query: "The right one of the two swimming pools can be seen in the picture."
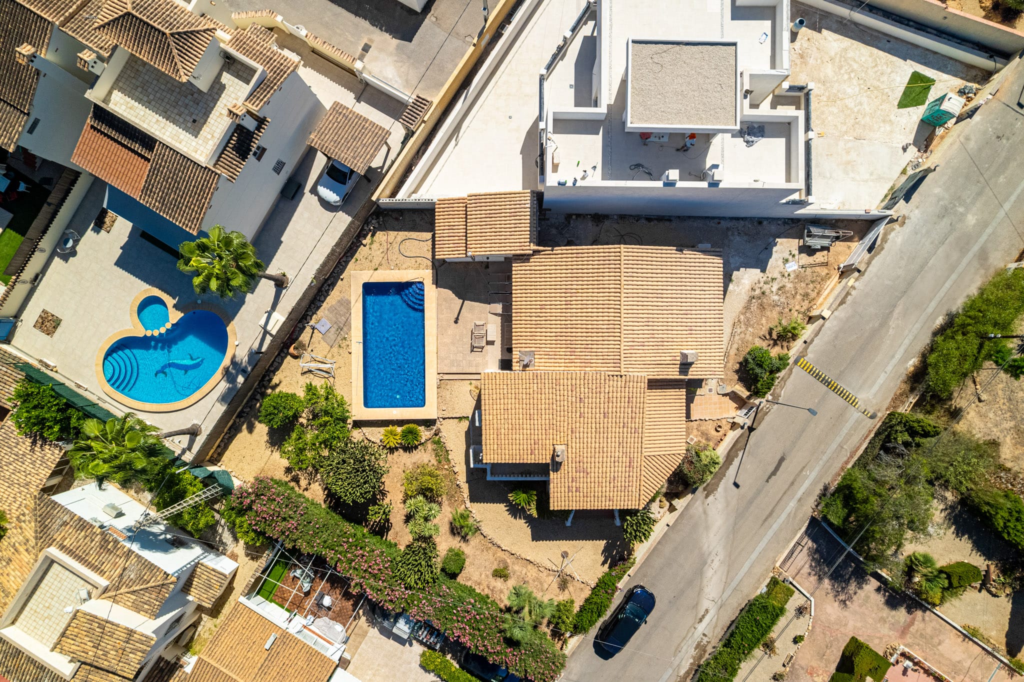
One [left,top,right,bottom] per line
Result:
[352,272,437,419]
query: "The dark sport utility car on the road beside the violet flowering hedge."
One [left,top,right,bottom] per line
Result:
[597,583,655,661]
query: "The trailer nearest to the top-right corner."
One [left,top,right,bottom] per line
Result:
[803,222,853,250]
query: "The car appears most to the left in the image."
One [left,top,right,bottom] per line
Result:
[316,158,359,206]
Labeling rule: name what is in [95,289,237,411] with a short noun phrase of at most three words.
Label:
swimming pool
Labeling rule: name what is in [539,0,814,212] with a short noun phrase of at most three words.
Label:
building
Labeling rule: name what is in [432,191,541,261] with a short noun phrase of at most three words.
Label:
shed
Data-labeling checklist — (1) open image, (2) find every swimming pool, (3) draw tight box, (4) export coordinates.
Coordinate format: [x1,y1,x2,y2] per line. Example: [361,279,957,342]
[95,289,237,411]
[352,272,437,419]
